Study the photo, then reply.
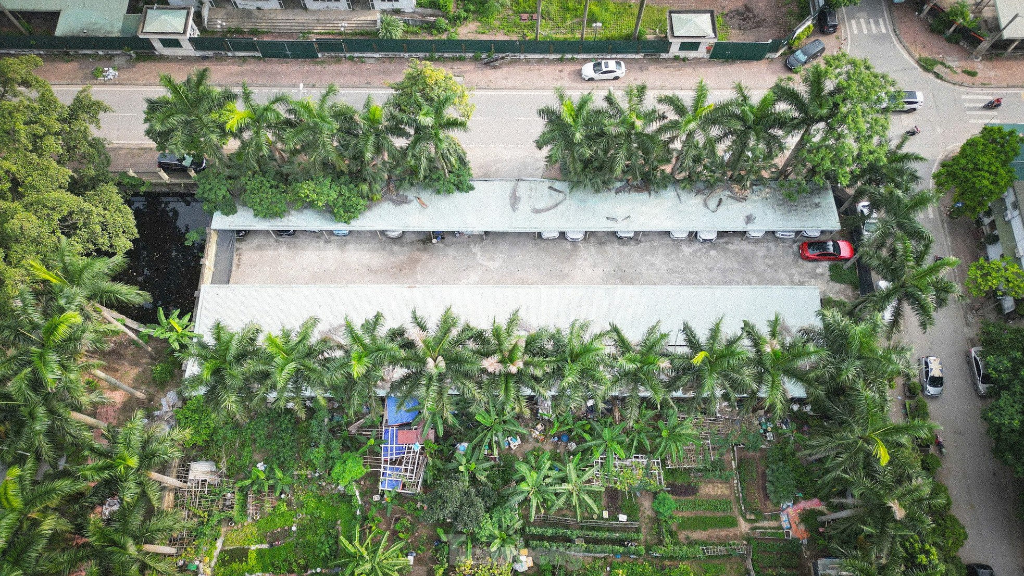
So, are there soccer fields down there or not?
No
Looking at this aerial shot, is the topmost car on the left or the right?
right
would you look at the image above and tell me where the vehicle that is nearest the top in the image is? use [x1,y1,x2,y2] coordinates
[817,2,845,40]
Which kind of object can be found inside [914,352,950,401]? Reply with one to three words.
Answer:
car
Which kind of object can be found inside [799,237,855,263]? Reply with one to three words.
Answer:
car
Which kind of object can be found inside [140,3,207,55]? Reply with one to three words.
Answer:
building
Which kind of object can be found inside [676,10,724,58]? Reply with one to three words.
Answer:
building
